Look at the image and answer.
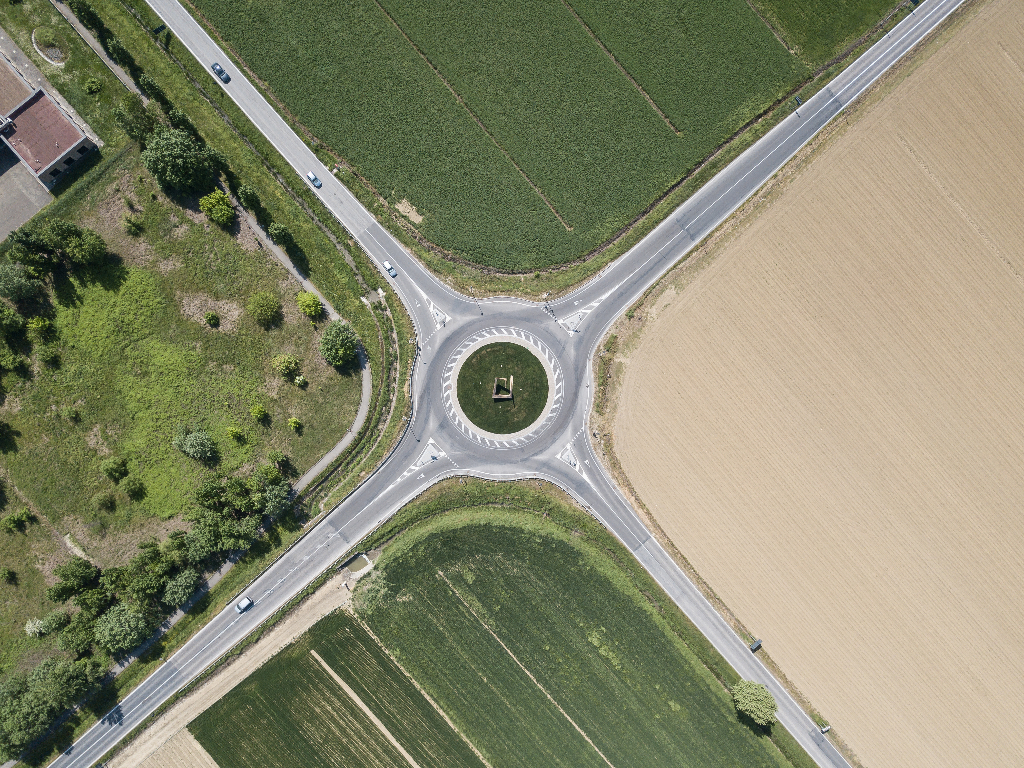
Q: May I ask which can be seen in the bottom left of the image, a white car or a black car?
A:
white car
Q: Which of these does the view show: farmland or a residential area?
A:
farmland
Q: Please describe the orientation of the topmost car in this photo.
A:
diagonally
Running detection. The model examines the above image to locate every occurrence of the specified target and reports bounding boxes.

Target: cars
[208,59,228,82]
[380,258,397,277]
[233,596,252,614]
[304,169,321,187]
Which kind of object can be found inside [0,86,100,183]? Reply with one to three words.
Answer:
building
